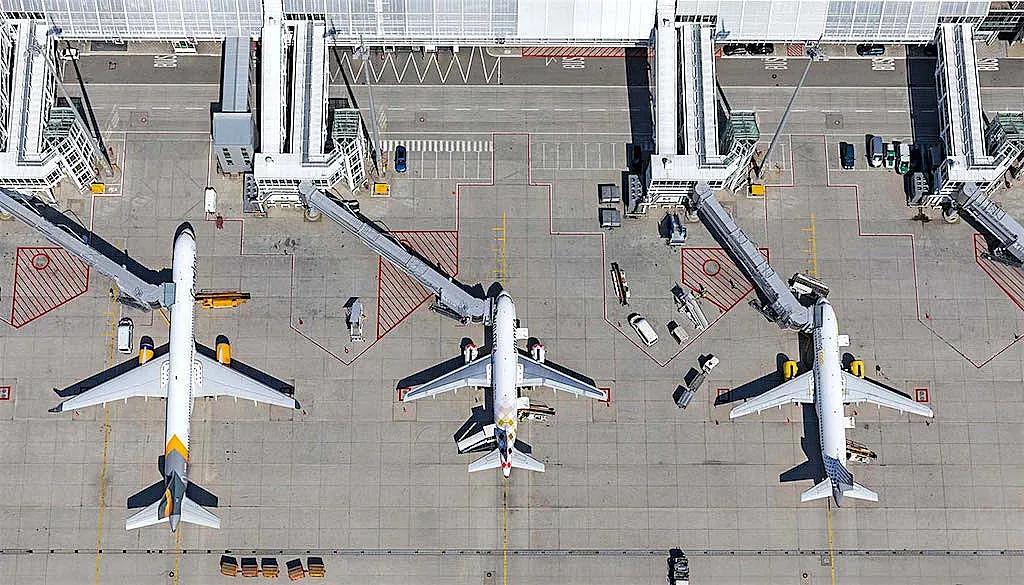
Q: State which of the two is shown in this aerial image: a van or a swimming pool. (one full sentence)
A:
Of the two, only a van appears.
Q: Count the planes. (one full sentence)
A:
My tally gives 3 planes in this view.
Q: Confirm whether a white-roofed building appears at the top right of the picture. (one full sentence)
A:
Yes, looking at the top right of the picture, one can make out a white-roofed building.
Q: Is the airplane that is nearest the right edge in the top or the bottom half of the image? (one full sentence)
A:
The bottom half of the photo is where the airplane that is nearest the right edge is.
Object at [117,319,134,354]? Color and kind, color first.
white vehicle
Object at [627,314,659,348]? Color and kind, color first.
white van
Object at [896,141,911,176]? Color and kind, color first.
white vehicle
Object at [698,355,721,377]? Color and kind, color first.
white work vehicle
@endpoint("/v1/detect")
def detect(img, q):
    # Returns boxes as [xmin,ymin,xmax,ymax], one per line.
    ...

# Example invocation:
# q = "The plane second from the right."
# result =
[403,292,607,478]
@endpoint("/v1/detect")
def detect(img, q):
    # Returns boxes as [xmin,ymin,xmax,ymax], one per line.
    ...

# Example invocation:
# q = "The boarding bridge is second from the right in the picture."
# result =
[685,181,832,337]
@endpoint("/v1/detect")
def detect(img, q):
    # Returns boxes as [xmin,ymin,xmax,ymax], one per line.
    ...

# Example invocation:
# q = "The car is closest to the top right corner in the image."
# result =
[857,44,885,57]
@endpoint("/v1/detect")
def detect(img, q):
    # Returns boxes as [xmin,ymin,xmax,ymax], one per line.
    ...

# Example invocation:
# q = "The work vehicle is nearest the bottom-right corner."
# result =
[844,444,878,466]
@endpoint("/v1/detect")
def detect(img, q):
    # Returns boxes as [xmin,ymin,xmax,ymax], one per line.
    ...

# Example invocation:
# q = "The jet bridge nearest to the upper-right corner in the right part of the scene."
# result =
[941,183,1024,254]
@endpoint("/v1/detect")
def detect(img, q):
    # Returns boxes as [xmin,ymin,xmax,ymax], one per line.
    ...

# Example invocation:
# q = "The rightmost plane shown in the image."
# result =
[730,298,934,508]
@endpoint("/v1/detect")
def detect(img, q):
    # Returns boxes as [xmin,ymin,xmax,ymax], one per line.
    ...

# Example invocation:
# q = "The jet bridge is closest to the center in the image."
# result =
[297,180,498,329]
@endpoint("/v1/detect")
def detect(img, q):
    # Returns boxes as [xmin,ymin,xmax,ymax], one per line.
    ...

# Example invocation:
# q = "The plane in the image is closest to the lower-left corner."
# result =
[49,223,300,533]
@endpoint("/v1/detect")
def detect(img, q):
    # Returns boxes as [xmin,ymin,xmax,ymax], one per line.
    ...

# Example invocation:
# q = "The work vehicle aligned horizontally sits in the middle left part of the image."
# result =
[196,290,251,310]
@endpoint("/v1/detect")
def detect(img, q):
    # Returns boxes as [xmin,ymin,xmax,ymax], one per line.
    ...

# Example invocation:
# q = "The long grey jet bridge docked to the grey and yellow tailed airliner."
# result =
[0,192,179,315]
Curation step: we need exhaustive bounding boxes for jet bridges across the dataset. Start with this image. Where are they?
[0,192,179,315]
[685,181,832,337]
[297,180,498,329]
[941,183,1024,254]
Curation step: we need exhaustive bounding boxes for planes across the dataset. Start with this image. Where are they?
[49,223,300,533]
[730,298,934,508]
[403,292,607,478]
